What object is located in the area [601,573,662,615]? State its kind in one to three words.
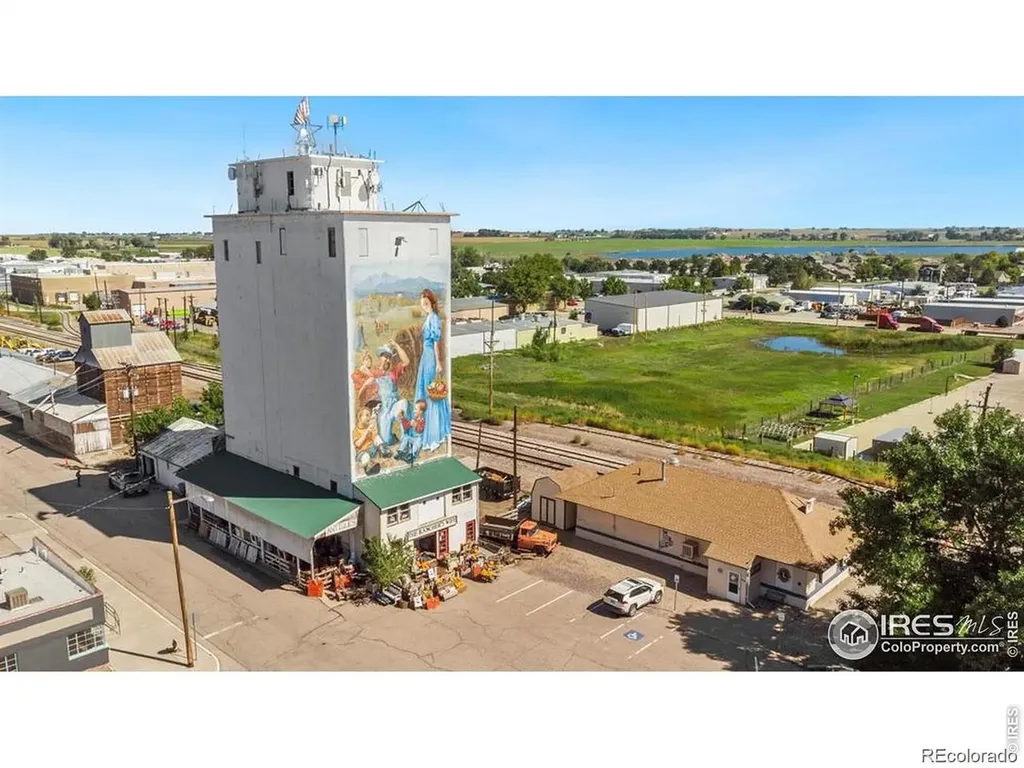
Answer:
car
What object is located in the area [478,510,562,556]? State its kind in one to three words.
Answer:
truck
